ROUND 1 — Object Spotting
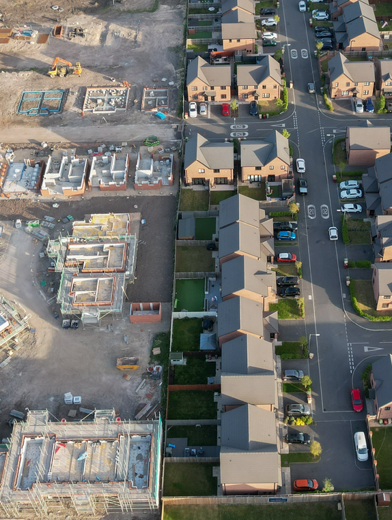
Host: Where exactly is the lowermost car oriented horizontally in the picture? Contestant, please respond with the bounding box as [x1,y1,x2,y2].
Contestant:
[293,477,317,489]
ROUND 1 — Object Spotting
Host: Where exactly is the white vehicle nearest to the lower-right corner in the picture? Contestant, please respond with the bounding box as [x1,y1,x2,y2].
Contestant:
[353,428,370,460]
